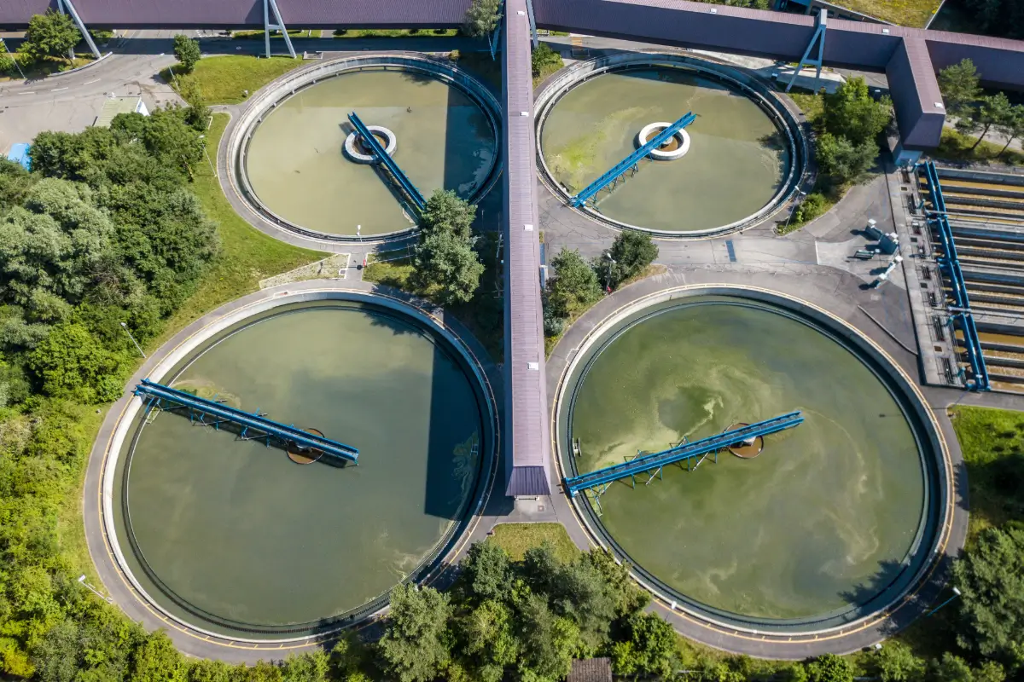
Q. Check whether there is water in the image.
Yes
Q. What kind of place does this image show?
industrial area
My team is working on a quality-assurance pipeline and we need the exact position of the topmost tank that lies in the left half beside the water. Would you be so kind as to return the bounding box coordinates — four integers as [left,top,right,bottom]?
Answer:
[226,52,502,244]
